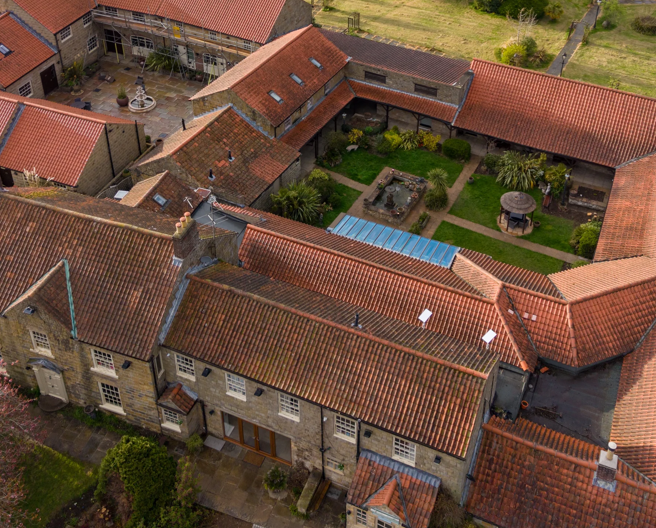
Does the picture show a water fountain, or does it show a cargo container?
water fountain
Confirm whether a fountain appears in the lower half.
No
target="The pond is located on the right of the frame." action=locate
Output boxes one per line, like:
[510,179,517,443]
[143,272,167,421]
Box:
[362,172,427,226]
